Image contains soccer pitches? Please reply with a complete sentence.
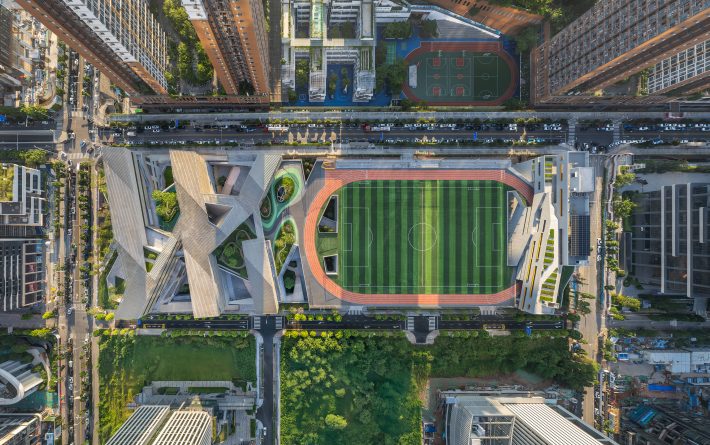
Yes, the frame does contain a soccer pitch.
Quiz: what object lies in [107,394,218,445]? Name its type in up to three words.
building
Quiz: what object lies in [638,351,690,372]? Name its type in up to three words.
building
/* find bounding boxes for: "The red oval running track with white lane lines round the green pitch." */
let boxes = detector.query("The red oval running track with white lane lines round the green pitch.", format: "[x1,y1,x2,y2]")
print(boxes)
[303,168,529,306]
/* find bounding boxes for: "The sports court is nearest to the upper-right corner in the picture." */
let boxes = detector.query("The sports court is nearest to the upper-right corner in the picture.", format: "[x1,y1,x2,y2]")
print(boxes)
[404,41,519,106]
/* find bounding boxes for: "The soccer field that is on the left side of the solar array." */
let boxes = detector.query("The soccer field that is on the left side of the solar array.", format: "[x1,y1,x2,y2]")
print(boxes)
[316,179,528,293]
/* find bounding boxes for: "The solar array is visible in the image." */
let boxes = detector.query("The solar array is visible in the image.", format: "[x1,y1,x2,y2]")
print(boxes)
[571,216,589,256]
